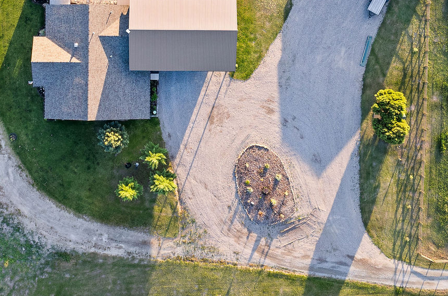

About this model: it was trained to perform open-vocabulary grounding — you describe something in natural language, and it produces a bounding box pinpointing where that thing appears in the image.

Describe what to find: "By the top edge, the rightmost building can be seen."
[127,0,236,71]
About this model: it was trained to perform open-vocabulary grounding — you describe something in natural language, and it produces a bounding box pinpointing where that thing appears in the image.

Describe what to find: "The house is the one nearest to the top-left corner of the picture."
[29,3,150,121]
